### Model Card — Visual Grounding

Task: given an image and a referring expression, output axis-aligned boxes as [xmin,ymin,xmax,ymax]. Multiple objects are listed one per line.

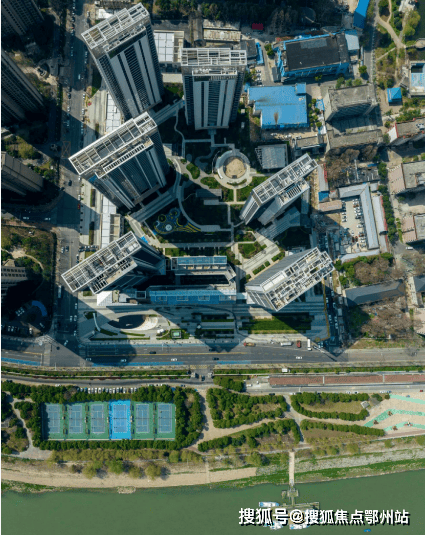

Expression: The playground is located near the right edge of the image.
[353,392,425,438]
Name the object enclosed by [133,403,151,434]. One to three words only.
tennis court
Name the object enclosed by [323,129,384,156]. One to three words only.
house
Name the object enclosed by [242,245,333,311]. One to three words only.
building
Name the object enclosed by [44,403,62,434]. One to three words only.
tennis court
